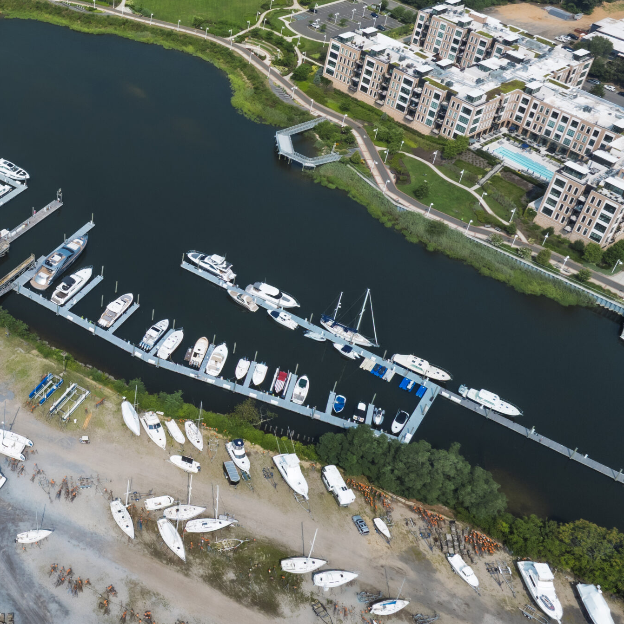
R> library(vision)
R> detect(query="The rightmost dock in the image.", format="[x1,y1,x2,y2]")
[438,389,624,485]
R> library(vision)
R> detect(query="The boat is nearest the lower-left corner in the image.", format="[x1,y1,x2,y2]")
[16,501,53,545]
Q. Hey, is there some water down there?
Yes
